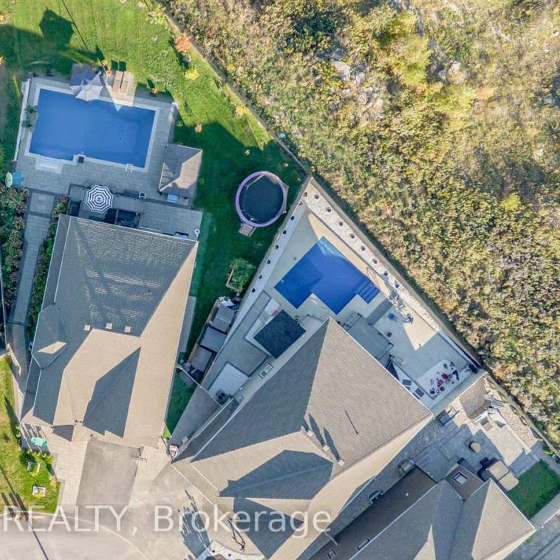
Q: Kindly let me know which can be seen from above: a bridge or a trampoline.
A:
trampoline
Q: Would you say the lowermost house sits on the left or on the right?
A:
right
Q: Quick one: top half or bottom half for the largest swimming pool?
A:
top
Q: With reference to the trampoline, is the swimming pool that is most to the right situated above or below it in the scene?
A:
below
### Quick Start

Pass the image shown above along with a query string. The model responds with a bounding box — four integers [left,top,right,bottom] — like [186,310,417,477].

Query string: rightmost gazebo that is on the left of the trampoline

[158,144,202,199]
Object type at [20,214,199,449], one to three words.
house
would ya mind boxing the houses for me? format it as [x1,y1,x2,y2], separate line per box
[304,464,536,560]
[171,318,433,560]
[20,214,199,449]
